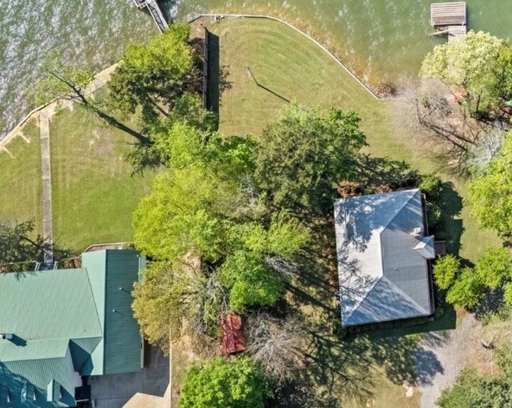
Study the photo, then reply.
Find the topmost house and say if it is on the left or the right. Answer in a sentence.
The topmost house is on the right side of the image.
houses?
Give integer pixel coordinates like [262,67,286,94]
[0,249,148,408]
[334,188,441,326]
